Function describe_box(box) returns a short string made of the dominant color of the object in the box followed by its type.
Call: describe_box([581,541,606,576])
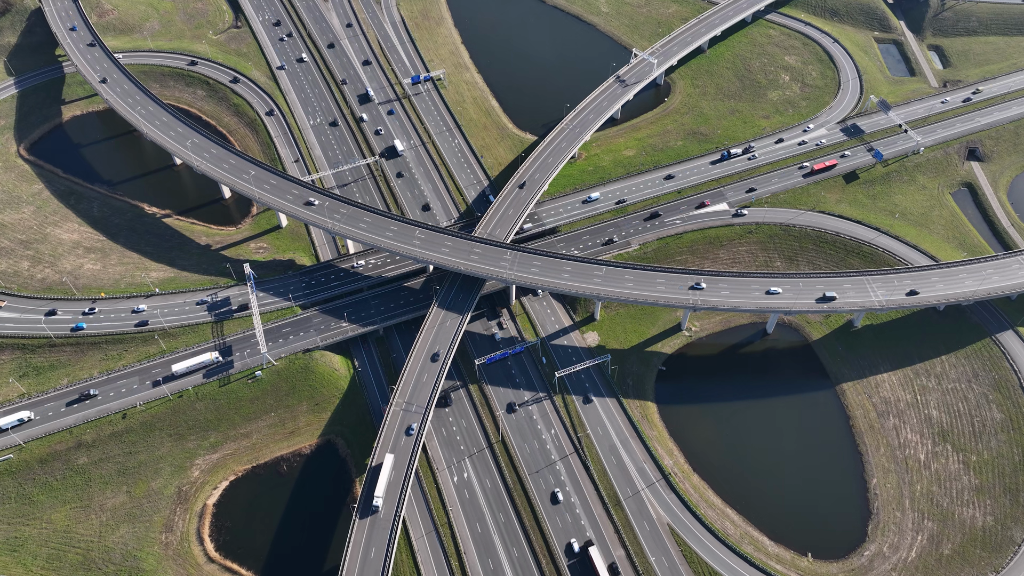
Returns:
white truck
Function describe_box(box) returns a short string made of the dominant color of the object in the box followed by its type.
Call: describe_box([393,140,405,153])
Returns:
white vehicle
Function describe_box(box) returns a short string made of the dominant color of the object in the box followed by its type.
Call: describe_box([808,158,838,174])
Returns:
red vehicle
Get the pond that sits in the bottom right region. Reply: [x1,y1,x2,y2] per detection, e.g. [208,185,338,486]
[656,322,868,560]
